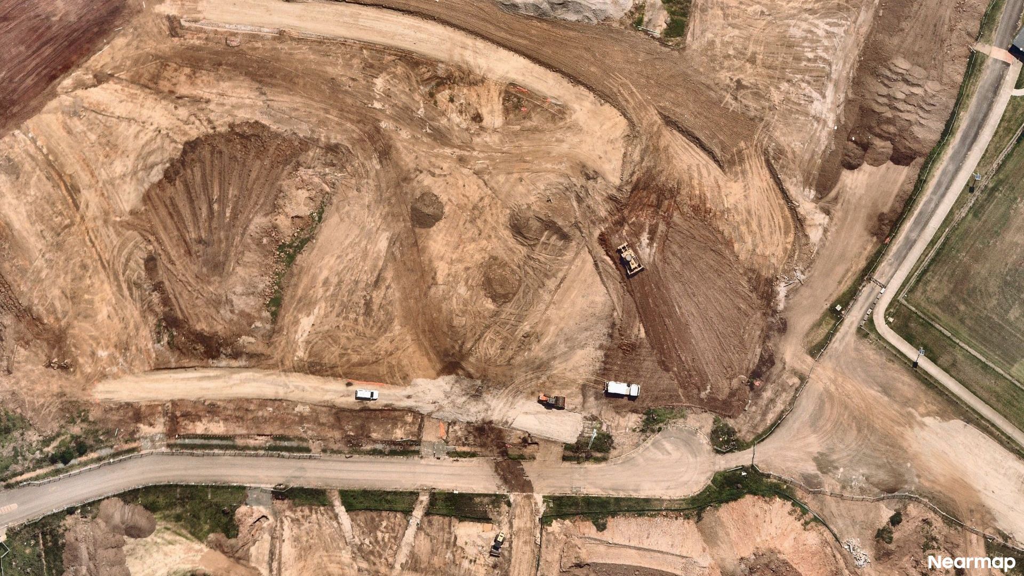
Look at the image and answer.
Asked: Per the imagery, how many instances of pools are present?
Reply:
none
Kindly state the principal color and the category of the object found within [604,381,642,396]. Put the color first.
white vehicle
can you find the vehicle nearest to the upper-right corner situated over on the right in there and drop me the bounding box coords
[619,244,645,277]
